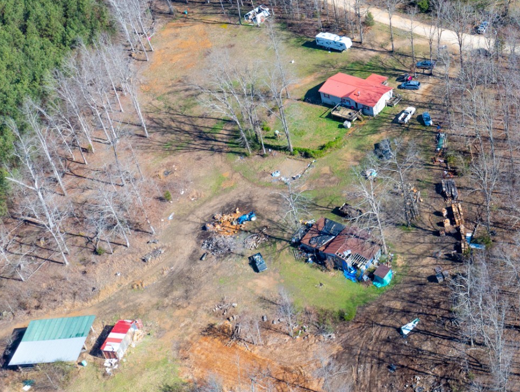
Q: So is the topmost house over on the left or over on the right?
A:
right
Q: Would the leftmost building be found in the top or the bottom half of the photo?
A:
bottom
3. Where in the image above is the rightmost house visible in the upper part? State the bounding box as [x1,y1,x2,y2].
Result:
[319,75,400,125]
